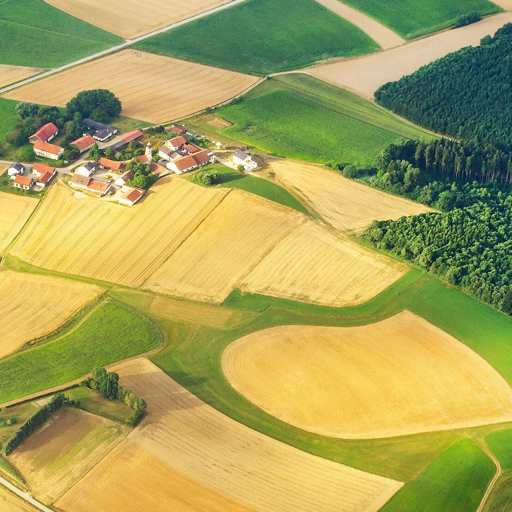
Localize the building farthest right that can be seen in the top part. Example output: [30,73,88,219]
[232,148,259,170]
